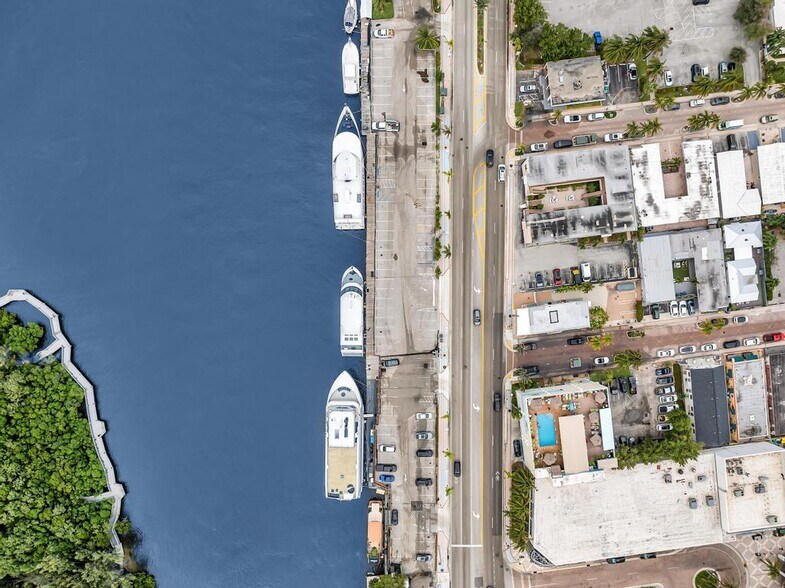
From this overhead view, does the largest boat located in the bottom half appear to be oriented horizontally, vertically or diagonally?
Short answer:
vertically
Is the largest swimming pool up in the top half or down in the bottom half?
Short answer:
bottom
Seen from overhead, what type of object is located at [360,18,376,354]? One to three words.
pier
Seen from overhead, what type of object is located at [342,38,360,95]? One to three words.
boat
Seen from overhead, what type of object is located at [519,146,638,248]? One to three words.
building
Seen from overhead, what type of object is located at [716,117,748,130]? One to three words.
vehicle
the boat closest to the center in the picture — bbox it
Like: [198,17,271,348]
[340,267,367,357]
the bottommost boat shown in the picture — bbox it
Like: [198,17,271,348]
[368,500,383,563]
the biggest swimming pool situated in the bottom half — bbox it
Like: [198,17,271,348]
[535,412,559,448]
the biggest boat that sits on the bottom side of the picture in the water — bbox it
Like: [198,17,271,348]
[324,370,370,501]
